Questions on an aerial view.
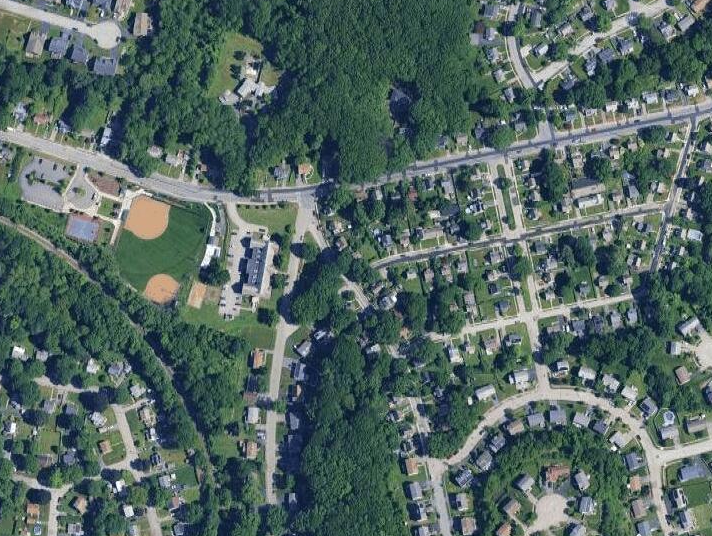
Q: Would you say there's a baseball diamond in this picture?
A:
Yes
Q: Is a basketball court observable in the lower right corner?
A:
No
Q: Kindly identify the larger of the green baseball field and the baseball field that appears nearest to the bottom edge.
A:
the green baseball field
